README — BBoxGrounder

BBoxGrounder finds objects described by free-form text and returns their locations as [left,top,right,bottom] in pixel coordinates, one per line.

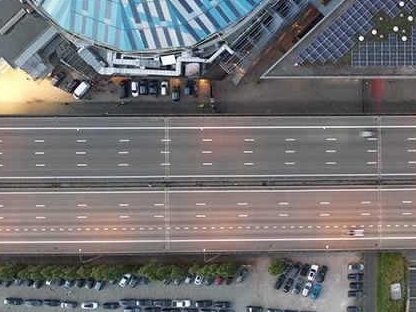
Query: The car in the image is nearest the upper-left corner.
[53,70,66,85]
